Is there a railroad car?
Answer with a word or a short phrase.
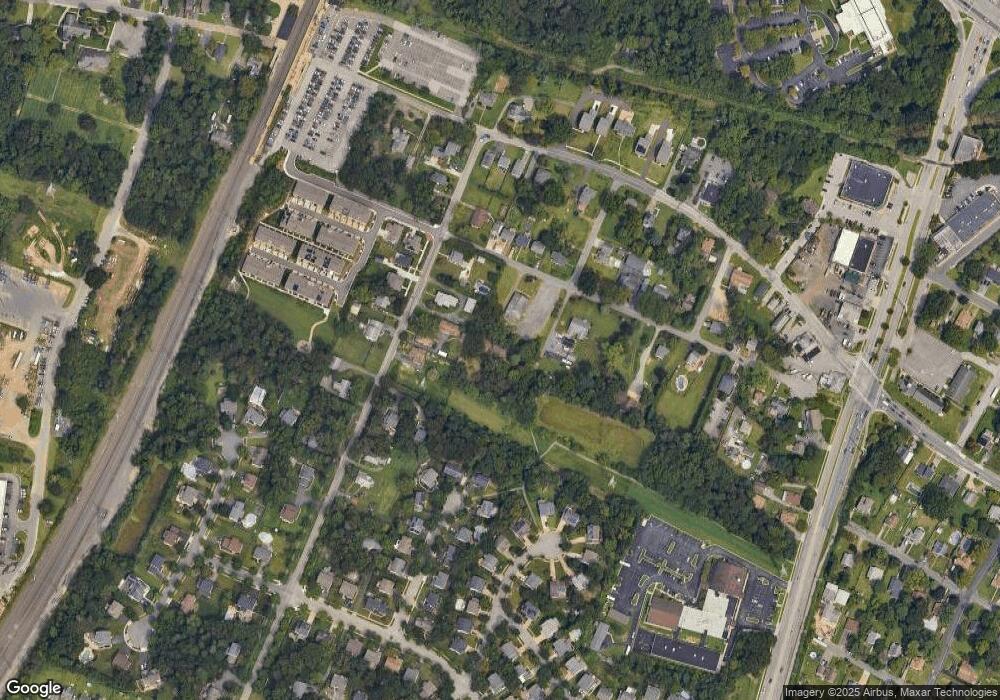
No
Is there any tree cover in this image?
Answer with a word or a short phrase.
Yes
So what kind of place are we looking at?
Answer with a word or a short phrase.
residential area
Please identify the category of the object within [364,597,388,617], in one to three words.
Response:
house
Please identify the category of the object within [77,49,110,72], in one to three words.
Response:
barn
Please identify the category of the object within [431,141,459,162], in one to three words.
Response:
house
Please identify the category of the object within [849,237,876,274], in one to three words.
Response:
building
